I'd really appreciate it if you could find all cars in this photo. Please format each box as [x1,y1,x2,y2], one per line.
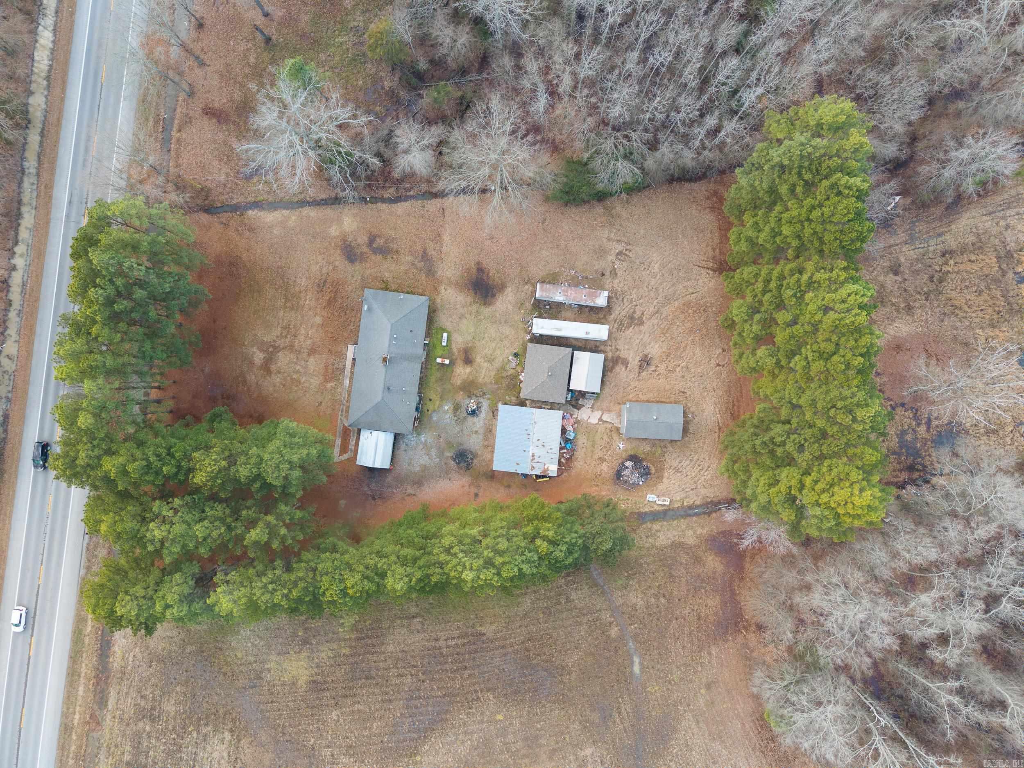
[34,442,52,470]
[12,609,29,633]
